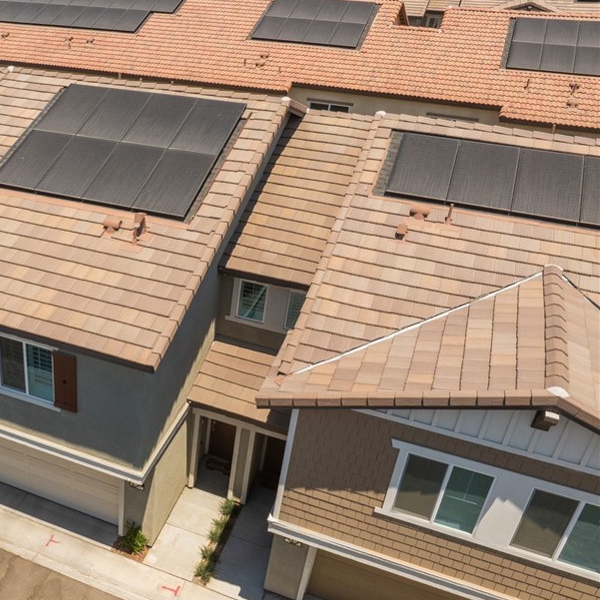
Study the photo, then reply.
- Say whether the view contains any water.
No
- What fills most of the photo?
buildings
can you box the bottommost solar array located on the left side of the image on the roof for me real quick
[0,86,244,222]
